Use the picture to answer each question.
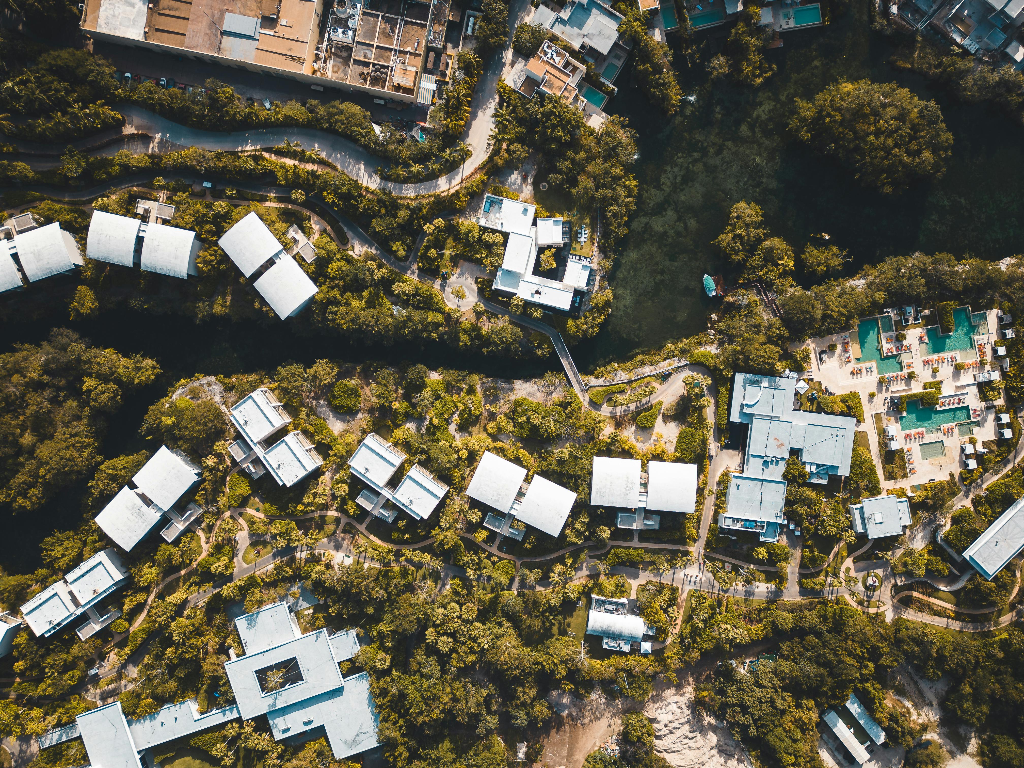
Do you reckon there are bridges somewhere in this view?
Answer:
Yes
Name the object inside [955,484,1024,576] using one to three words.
building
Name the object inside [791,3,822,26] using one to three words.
swimming pool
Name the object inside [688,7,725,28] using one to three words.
swimming pool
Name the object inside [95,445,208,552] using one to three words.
house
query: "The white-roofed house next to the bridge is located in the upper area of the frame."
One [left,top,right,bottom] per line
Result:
[479,194,598,313]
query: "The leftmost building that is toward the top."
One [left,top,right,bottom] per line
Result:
[0,213,83,299]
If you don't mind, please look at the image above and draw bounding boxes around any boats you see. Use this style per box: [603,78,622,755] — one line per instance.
[702,276,716,299]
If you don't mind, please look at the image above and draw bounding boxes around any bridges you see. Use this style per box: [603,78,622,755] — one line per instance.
[550,334,586,392]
